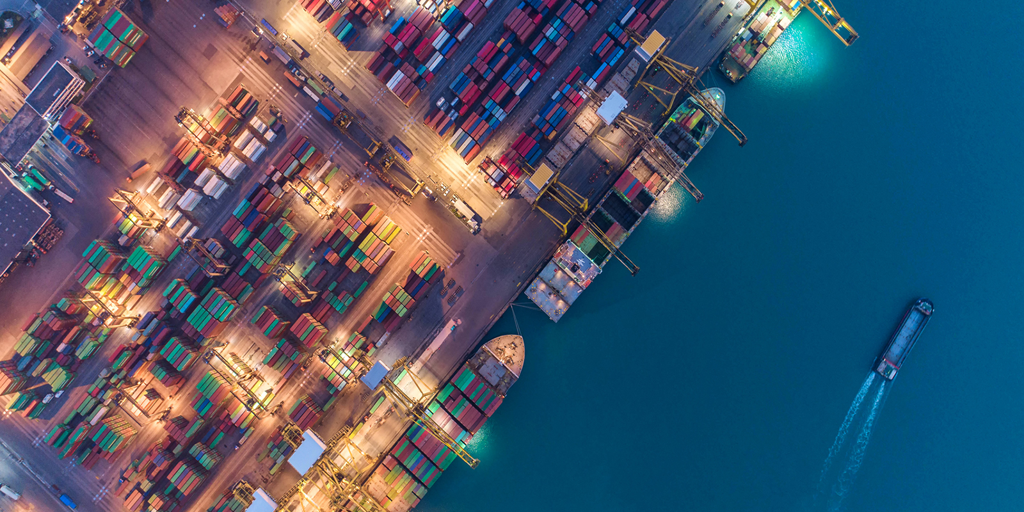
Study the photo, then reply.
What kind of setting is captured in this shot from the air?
port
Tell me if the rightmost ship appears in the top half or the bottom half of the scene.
bottom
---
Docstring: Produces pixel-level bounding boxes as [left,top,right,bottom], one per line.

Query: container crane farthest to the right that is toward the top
[797,0,860,51]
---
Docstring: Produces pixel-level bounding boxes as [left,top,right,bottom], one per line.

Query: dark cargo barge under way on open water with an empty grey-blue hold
[874,301,932,383]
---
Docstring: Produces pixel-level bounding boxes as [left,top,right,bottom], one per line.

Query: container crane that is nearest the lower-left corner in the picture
[109,377,173,427]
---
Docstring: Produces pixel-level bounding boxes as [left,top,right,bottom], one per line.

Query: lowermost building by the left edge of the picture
[0,165,56,278]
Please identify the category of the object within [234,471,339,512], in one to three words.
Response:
container crane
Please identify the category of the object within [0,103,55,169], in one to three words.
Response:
building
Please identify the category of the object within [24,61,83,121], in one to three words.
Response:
building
